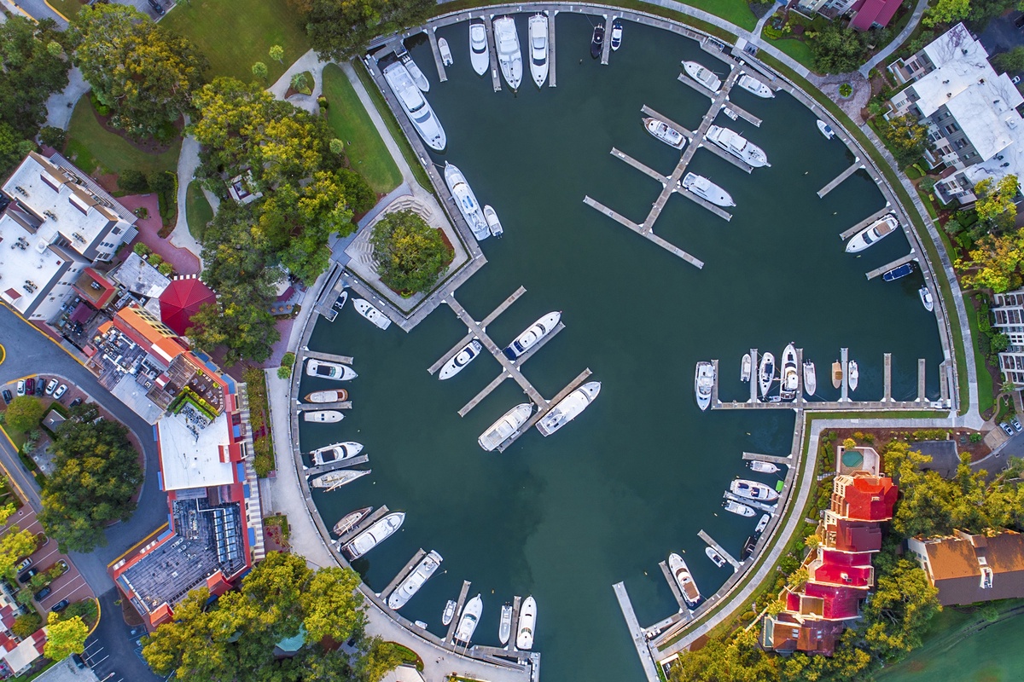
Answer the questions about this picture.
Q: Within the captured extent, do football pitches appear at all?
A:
No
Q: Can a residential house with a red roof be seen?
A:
Yes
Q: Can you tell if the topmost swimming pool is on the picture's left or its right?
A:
right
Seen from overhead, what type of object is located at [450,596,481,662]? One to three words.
boat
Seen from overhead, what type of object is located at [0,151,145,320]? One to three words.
building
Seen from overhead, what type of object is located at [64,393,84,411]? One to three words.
car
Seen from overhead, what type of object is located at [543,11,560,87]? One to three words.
pier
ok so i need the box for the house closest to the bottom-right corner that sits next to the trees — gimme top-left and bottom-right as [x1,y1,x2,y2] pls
[903,528,1024,606]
